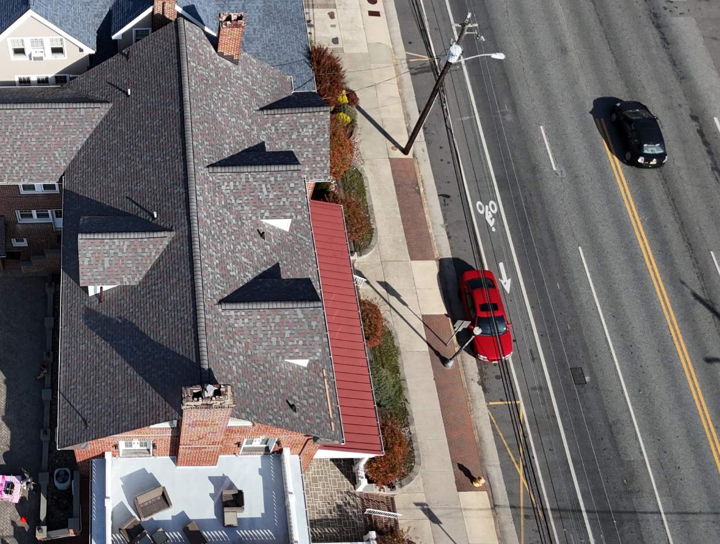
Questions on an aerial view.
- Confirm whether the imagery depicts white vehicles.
No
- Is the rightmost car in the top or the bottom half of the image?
top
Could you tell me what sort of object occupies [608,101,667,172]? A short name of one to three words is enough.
car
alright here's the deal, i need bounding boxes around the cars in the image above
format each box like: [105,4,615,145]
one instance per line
[608,101,667,172]
[456,271,512,363]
